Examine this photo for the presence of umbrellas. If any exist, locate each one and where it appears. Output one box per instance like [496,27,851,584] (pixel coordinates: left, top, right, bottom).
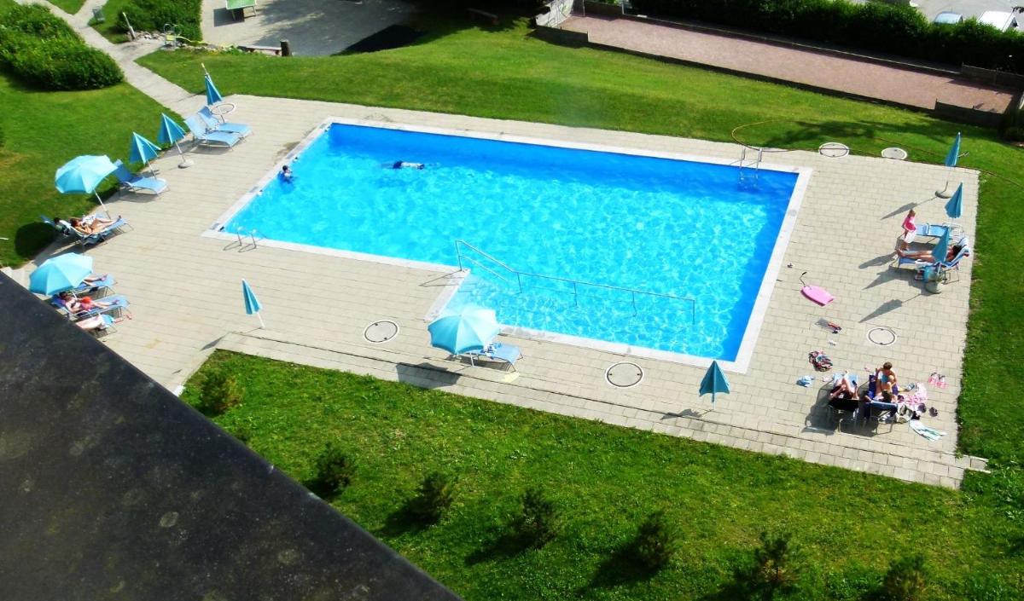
[202,64,223,106]
[59,152,123,216]
[427,304,505,365]
[946,183,965,240]
[935,132,959,198]
[22,250,102,295]
[133,132,161,178]
[698,360,732,408]
[243,279,264,327]
[925,225,950,292]
[161,113,193,168]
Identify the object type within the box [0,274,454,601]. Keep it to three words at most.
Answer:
building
